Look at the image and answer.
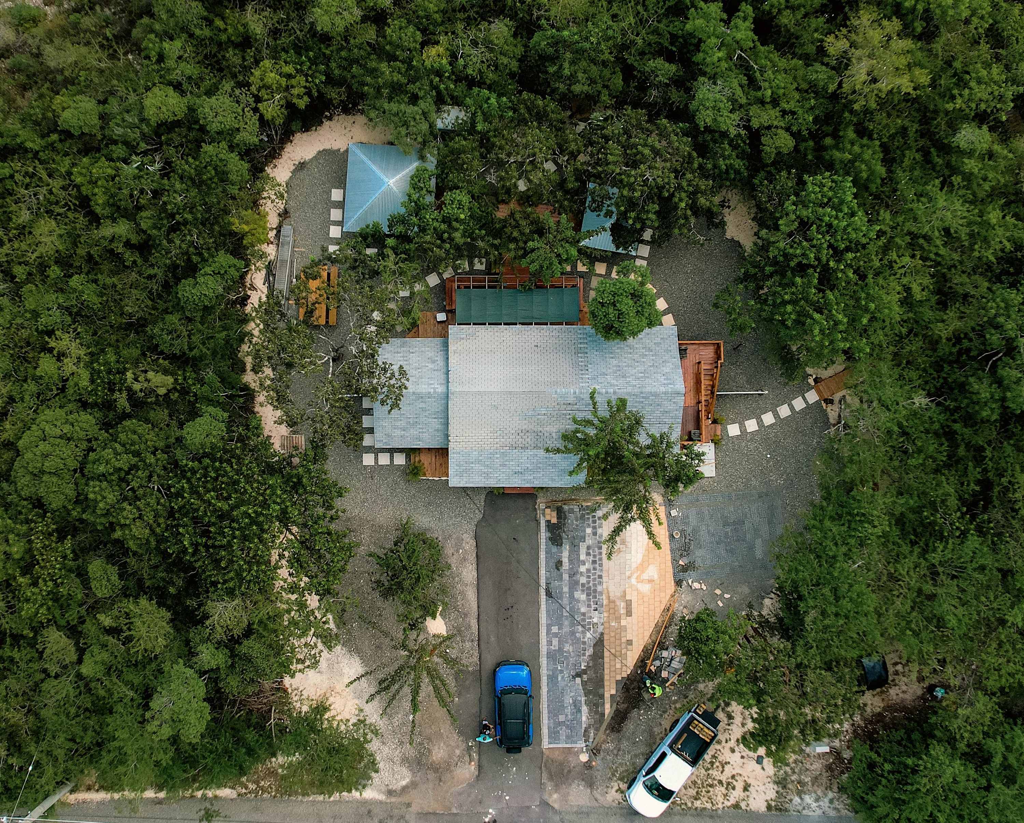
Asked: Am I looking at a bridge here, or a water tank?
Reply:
bridge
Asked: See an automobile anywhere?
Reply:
Yes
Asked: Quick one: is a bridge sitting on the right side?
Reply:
Yes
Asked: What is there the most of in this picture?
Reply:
trees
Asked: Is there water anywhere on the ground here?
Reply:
No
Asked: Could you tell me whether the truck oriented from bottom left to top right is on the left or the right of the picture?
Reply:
right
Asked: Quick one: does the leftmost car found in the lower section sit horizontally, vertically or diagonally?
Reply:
vertically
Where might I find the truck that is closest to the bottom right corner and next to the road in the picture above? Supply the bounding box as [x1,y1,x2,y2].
[631,704,720,817]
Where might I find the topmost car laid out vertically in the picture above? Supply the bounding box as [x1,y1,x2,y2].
[490,658,536,756]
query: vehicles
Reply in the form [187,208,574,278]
[631,704,720,817]
[490,658,536,756]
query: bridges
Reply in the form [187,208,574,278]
[801,360,874,407]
